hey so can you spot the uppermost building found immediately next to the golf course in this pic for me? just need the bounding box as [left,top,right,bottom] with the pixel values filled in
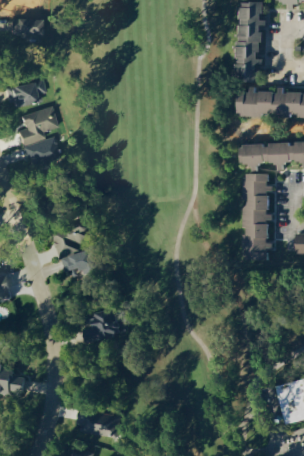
[233,1,266,84]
